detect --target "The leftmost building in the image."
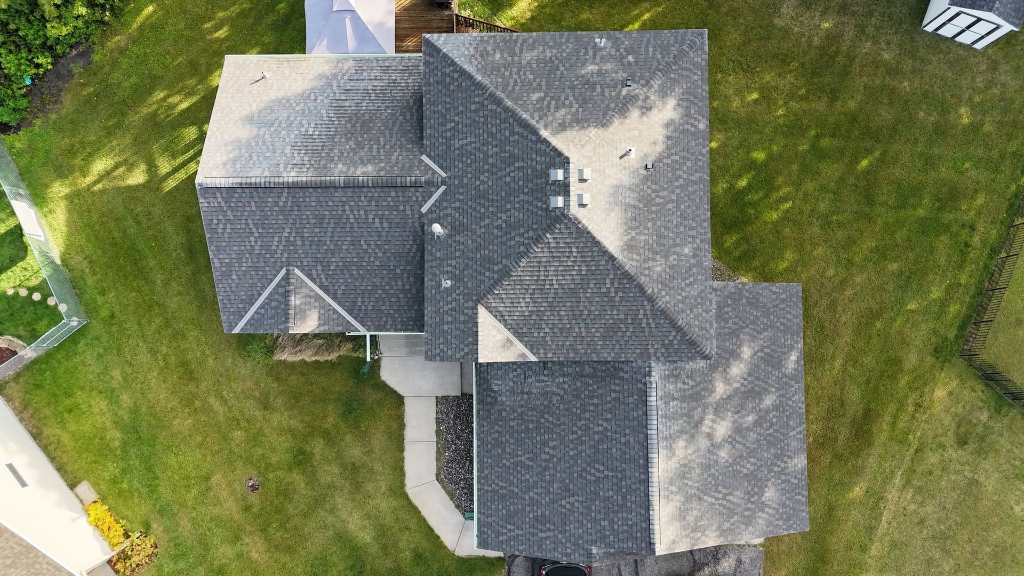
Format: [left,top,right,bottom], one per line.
[0,395,143,576]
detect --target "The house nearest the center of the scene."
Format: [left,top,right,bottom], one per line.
[195,28,808,566]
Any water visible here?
No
